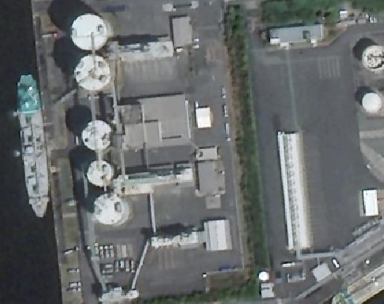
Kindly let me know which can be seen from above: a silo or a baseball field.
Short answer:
silo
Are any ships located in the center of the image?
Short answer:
No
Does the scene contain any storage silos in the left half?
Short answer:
Yes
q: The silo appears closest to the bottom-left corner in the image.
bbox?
[93,194,130,226]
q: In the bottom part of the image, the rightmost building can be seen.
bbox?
[365,189,379,216]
